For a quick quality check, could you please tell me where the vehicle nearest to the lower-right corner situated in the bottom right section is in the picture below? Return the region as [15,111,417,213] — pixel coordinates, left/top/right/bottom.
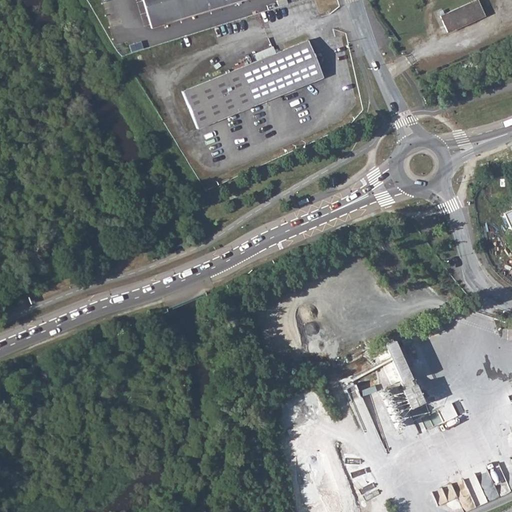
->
[488,464,500,486]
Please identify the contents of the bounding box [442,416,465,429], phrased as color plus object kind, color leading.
white vehicle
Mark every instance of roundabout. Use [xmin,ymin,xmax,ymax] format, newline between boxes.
[372,120,471,209]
